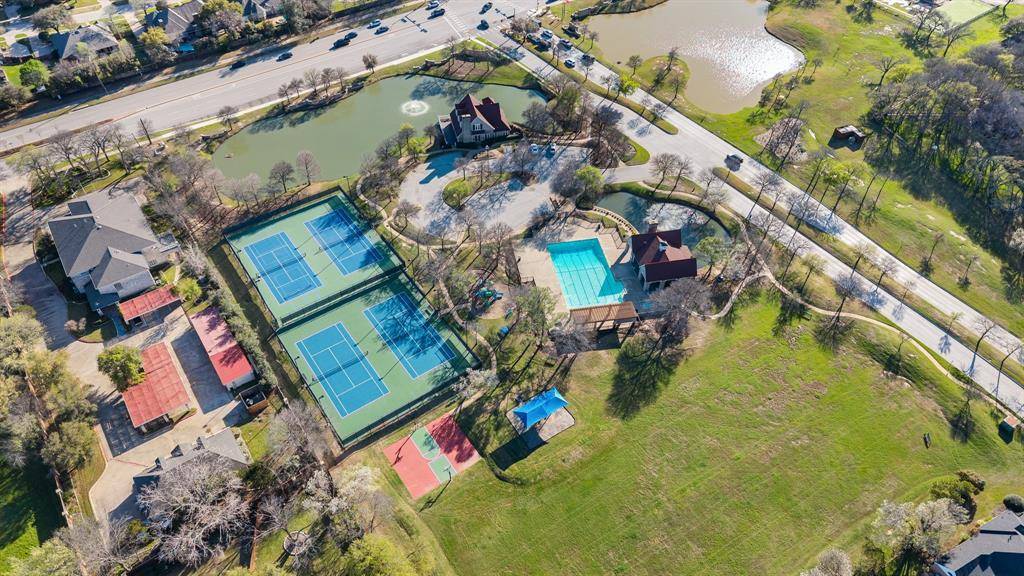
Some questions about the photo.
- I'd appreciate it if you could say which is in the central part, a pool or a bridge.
pool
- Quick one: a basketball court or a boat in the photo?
basketball court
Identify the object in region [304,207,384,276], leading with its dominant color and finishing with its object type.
blue tennis court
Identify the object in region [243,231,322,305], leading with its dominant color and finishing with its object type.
blue tennis court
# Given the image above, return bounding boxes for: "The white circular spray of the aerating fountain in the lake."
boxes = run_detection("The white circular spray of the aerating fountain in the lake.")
[399,98,432,118]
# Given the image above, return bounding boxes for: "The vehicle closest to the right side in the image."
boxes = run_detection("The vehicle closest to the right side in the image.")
[726,151,745,165]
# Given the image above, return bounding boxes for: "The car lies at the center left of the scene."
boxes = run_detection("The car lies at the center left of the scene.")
[131,316,143,328]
